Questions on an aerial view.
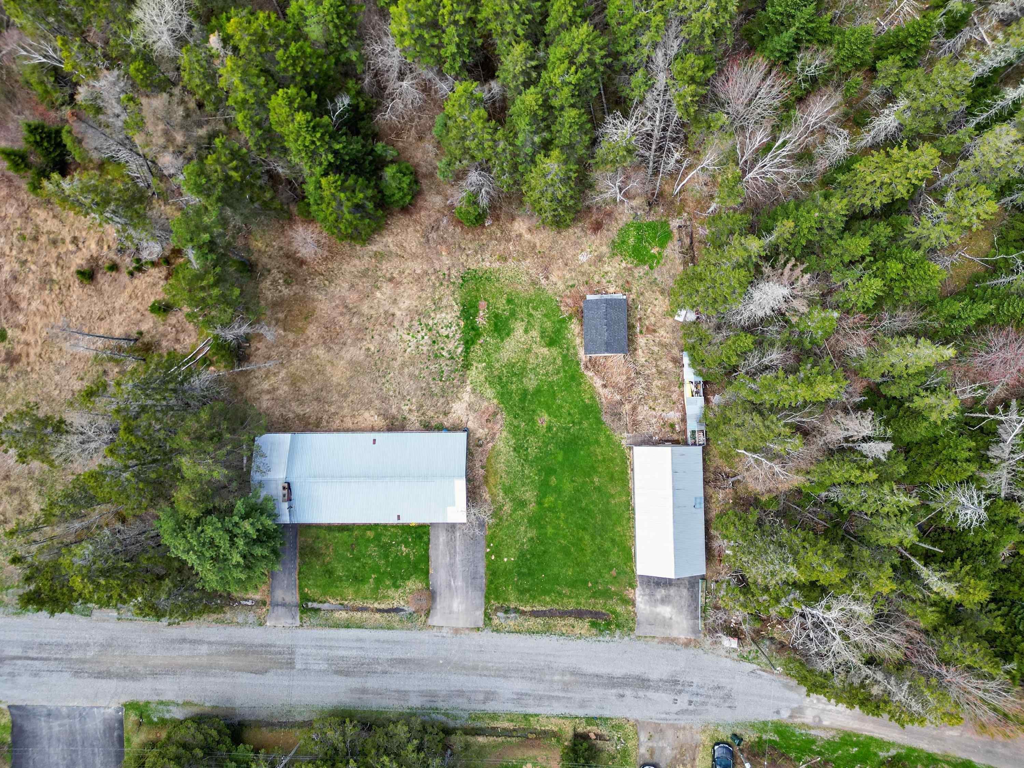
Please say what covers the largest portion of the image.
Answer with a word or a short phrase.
trees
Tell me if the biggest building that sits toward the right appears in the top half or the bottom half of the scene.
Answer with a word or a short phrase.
bottom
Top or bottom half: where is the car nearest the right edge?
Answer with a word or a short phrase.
bottom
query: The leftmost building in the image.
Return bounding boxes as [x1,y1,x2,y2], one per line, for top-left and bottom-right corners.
[249,429,472,524]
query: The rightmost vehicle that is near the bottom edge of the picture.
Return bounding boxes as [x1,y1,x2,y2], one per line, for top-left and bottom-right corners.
[710,738,736,768]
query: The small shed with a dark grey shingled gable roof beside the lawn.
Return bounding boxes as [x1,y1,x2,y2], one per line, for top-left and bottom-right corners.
[583,294,628,360]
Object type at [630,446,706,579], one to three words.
building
